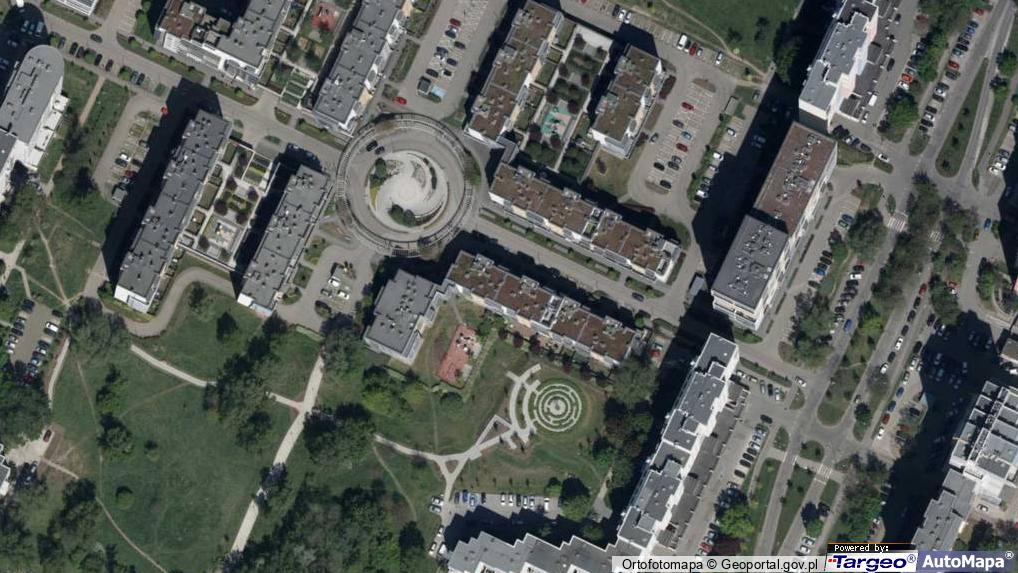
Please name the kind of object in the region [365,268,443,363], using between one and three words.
building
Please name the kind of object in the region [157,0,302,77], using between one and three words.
building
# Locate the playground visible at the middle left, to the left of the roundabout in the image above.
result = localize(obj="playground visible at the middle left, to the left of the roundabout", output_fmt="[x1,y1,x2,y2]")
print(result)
[211,220,236,250]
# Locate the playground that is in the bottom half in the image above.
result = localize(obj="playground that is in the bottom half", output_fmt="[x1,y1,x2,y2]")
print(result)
[438,323,482,386]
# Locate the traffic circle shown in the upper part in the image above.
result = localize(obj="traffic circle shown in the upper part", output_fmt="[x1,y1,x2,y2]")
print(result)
[335,115,474,256]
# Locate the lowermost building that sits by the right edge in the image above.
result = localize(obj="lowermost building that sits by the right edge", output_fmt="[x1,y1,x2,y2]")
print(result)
[902,469,979,573]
